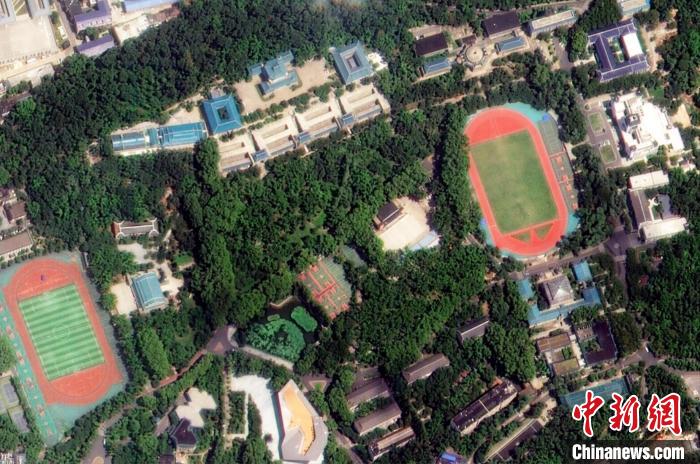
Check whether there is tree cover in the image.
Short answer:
Yes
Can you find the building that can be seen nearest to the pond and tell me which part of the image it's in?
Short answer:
bottom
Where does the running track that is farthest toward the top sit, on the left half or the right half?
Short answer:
right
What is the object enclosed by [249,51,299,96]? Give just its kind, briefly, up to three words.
building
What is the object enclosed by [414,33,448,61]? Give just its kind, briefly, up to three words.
building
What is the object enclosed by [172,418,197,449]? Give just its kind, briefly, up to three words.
house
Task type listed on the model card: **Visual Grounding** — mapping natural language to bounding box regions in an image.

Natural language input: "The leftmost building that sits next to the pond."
[278,379,329,464]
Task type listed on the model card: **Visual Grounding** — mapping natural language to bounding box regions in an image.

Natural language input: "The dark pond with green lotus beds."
[237,294,328,364]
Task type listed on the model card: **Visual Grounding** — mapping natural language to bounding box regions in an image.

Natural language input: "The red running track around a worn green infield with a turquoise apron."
[464,102,578,260]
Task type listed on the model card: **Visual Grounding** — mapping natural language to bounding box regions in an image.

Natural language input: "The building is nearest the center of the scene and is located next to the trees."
[377,203,402,227]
